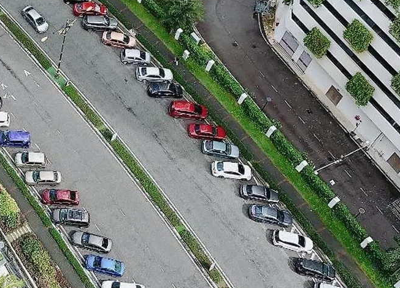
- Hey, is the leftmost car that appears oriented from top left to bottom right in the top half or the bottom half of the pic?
top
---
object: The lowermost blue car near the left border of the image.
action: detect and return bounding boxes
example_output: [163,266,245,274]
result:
[0,129,32,150]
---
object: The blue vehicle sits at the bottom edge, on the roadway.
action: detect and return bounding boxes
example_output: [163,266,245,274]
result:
[80,251,125,278]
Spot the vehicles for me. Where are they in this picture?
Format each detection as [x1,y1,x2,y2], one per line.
[84,14,117,32]
[237,183,280,207]
[15,151,48,169]
[40,188,82,207]
[99,276,144,288]
[186,124,228,142]
[247,204,293,230]
[68,227,111,252]
[0,129,32,150]
[121,50,152,67]
[23,168,63,188]
[169,101,207,122]
[101,32,137,50]
[52,206,92,228]
[136,68,174,83]
[0,112,10,129]
[20,6,52,33]
[292,255,338,283]
[269,228,316,257]
[199,141,241,161]
[146,82,185,100]
[209,162,253,183]
[80,251,125,278]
